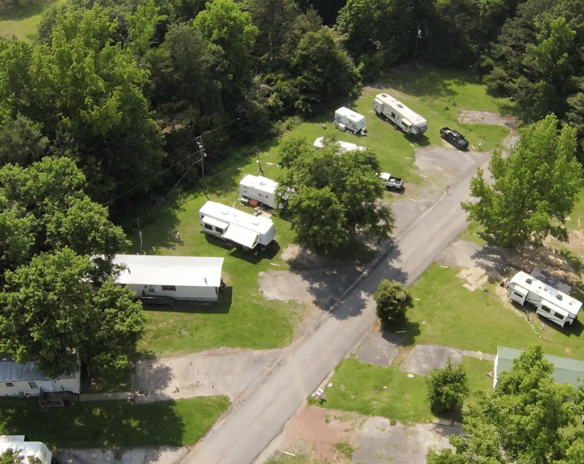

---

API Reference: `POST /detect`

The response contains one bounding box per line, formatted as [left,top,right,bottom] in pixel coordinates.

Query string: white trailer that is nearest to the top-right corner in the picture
[370,94,428,139]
